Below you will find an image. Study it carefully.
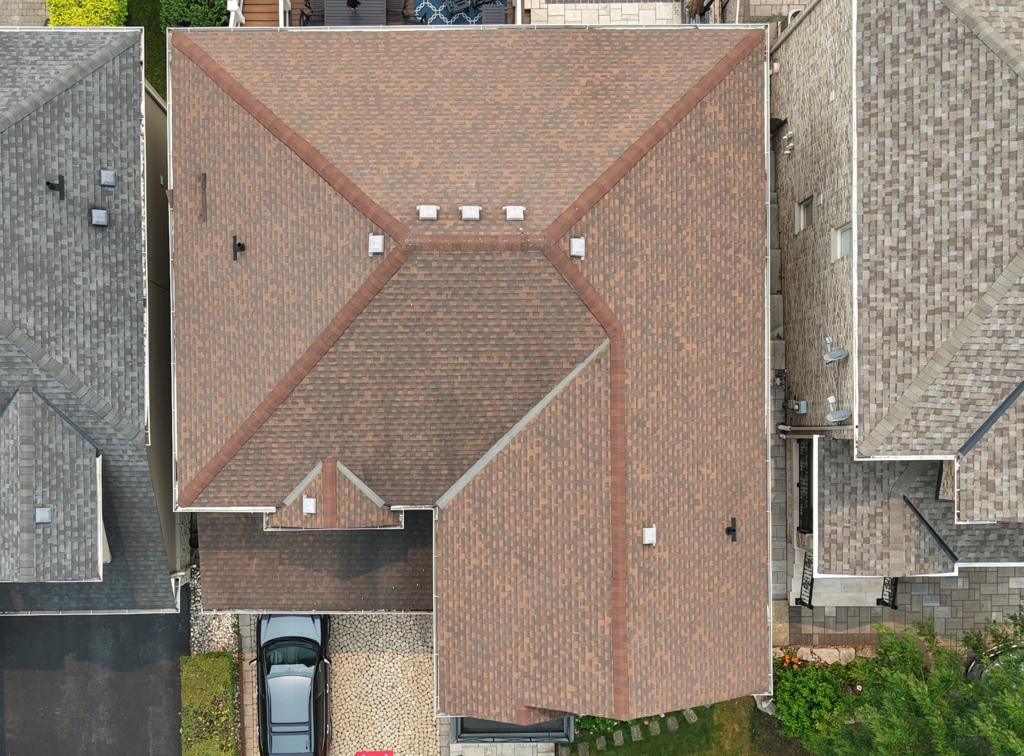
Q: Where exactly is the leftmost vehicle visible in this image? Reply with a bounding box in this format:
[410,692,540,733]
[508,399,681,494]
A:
[250,614,336,756]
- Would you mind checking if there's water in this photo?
No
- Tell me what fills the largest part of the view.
buildings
